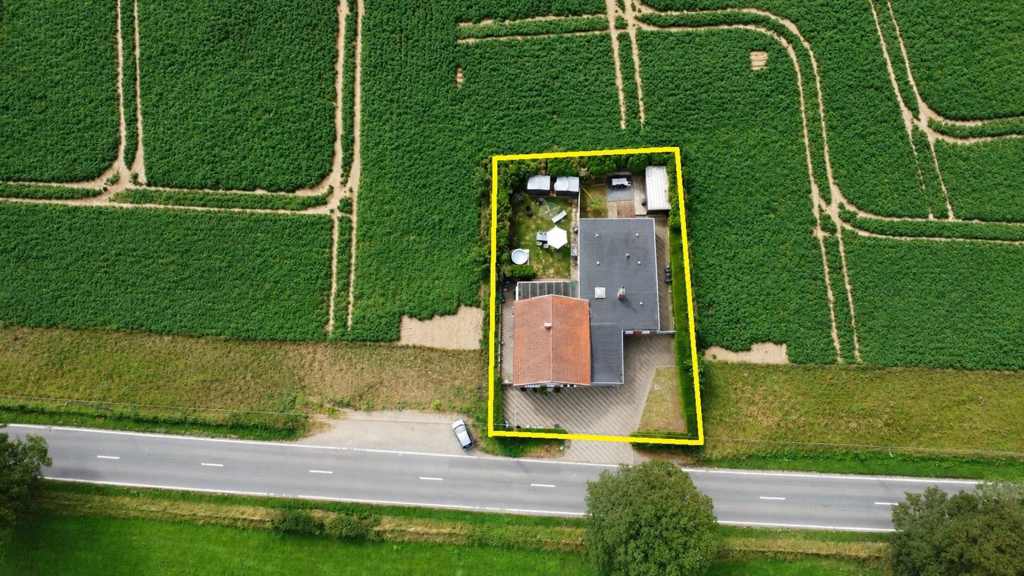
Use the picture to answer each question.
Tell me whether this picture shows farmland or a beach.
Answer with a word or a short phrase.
farmland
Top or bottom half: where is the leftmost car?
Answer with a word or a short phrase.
bottom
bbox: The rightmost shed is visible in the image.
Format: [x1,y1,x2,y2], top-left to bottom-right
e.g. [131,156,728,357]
[644,166,670,216]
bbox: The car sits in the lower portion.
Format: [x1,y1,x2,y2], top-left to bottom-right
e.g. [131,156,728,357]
[452,419,474,454]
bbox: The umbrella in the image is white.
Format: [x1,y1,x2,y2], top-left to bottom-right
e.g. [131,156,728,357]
[547,228,569,248]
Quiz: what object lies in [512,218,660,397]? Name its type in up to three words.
house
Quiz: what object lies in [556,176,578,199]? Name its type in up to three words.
shed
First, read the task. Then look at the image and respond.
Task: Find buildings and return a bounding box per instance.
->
[644,166,670,216]
[512,218,660,397]
[556,176,578,199]
[527,174,550,198]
